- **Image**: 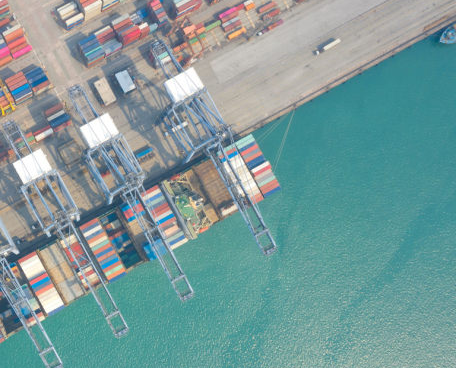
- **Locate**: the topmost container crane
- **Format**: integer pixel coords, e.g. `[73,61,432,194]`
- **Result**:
[169,8,206,62]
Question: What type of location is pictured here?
port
